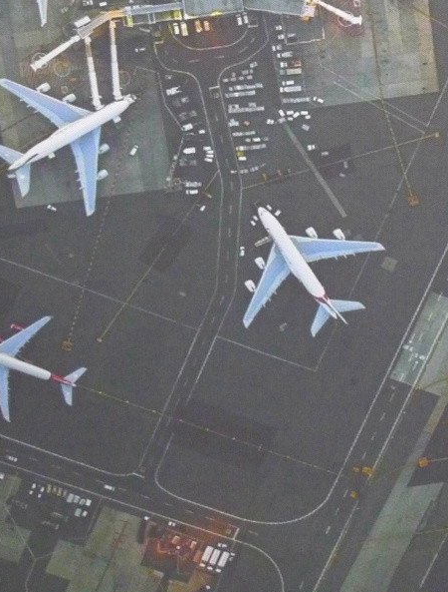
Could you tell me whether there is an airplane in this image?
Yes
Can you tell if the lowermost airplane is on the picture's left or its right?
left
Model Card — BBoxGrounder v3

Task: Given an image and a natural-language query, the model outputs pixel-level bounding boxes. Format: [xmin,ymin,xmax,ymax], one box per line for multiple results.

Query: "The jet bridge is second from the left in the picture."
[81,35,104,112]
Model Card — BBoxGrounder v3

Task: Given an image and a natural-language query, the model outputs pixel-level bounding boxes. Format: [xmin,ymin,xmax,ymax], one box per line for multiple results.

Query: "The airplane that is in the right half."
[249,207,383,341]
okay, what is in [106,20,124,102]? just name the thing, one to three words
jet bridge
